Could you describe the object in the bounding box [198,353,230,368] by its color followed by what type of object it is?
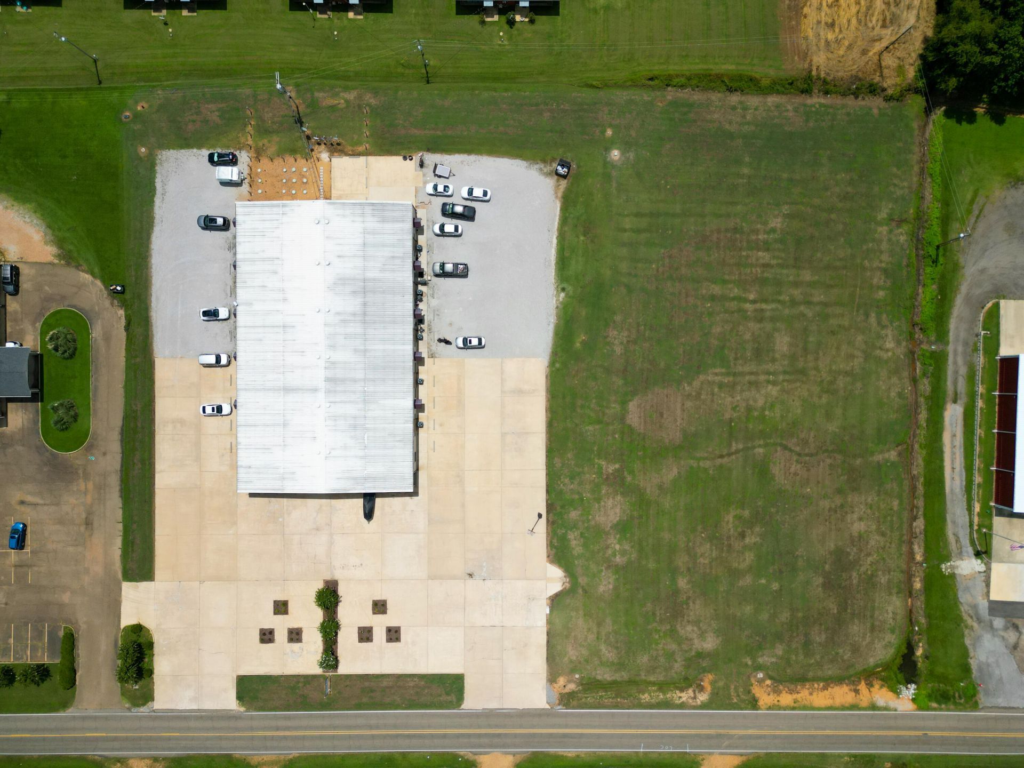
white vehicle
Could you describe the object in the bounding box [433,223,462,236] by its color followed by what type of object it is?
white vehicle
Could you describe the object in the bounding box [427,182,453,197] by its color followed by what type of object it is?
white car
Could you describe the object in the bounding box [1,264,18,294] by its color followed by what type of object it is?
black car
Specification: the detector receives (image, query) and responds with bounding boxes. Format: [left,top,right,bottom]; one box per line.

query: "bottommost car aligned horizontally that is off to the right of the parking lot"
[200,403,231,417]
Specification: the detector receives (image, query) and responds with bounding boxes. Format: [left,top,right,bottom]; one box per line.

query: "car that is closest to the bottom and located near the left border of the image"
[10,522,26,550]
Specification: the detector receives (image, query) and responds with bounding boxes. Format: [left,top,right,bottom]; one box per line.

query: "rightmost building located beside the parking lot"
[232,198,423,495]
